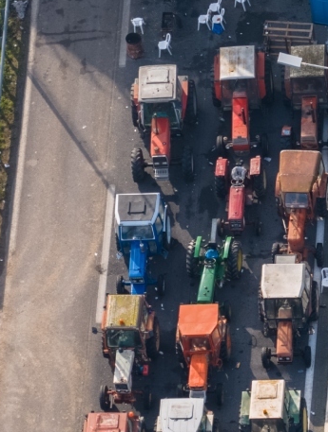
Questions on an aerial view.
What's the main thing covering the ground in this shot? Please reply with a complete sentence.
Most of the picture is covered by paved ground.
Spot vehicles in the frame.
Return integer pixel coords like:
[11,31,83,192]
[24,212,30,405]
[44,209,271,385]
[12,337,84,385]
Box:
[212,43,274,161]
[184,229,245,316]
[237,374,309,432]
[80,411,144,432]
[153,394,220,432]
[174,302,233,408]
[212,152,265,238]
[272,151,328,267]
[113,190,171,302]
[131,60,196,183]
[280,41,328,158]
[91,291,160,411]
[257,255,318,377]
